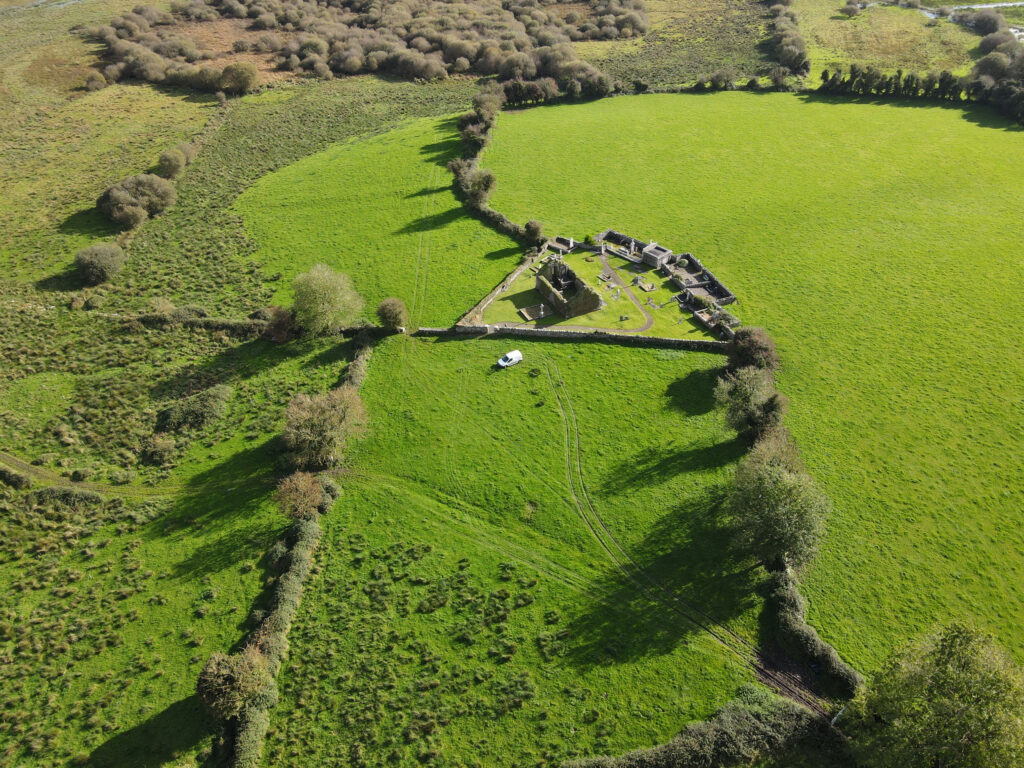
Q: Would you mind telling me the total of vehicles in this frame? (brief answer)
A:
1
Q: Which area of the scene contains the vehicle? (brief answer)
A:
center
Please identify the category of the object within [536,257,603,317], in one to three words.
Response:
building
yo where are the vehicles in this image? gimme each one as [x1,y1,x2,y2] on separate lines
[496,347,524,367]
